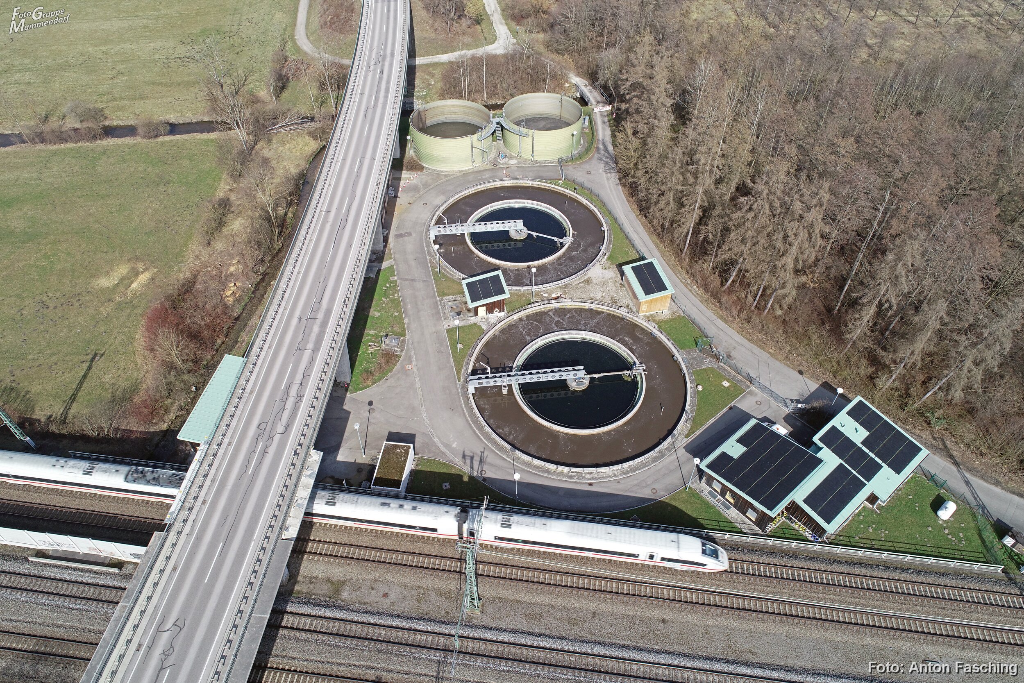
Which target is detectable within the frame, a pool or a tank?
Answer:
tank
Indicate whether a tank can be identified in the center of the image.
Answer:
Yes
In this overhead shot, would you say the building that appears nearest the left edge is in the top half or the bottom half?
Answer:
bottom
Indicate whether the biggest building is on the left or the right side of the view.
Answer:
right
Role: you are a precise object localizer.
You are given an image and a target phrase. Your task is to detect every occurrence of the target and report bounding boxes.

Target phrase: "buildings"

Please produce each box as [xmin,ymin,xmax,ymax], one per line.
[691,395,930,546]
[462,270,510,317]
[621,258,675,314]
[371,442,414,498]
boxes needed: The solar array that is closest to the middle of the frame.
[466,274,505,303]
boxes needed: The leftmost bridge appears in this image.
[80,0,410,683]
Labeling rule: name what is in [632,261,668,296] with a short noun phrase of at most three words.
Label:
solar array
